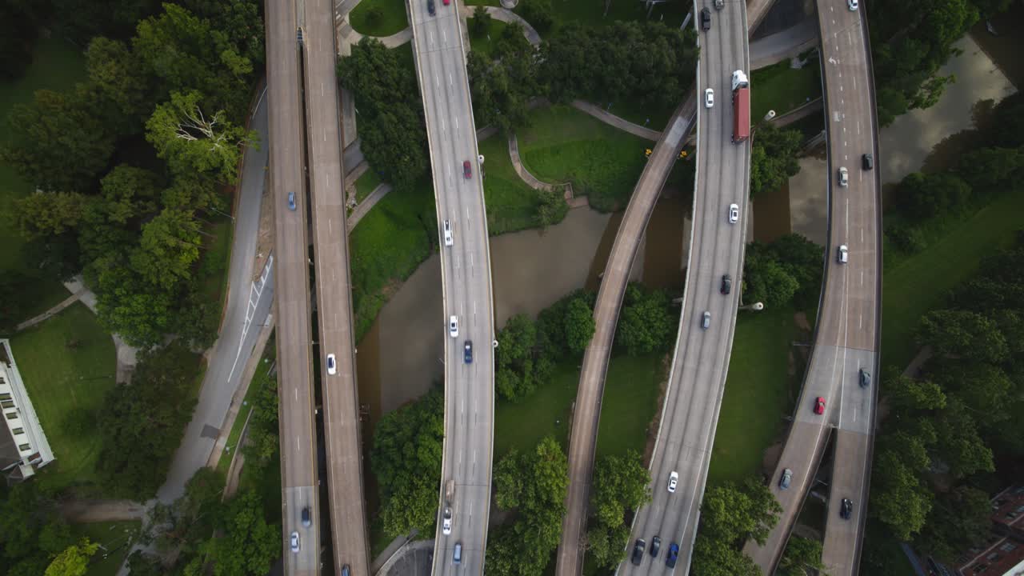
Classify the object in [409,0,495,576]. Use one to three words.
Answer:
bridge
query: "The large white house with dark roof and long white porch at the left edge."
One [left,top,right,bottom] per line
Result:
[0,335,62,474]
